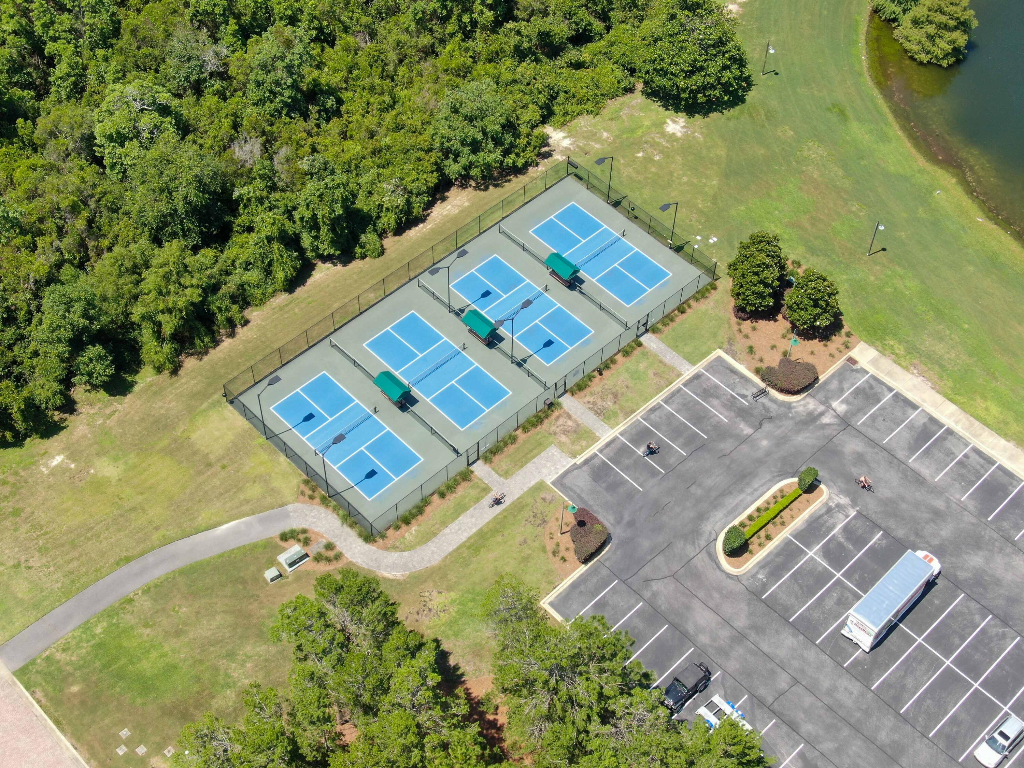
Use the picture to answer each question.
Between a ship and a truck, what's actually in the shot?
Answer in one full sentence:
Of the two, only a truck appears.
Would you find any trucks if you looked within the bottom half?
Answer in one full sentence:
Yes, a truck appears within the bottom half.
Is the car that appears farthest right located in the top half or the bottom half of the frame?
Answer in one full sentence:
It is in the bottom half that the car that appears farthest right appears.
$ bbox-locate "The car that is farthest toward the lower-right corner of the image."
[976,711,1024,766]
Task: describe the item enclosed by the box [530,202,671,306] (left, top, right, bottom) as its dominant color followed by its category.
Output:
blue sports court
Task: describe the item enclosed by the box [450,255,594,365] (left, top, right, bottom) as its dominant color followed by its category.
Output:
blue sports court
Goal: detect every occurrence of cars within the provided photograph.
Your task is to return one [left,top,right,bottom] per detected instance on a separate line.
[976,711,1024,766]
[661,660,708,709]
